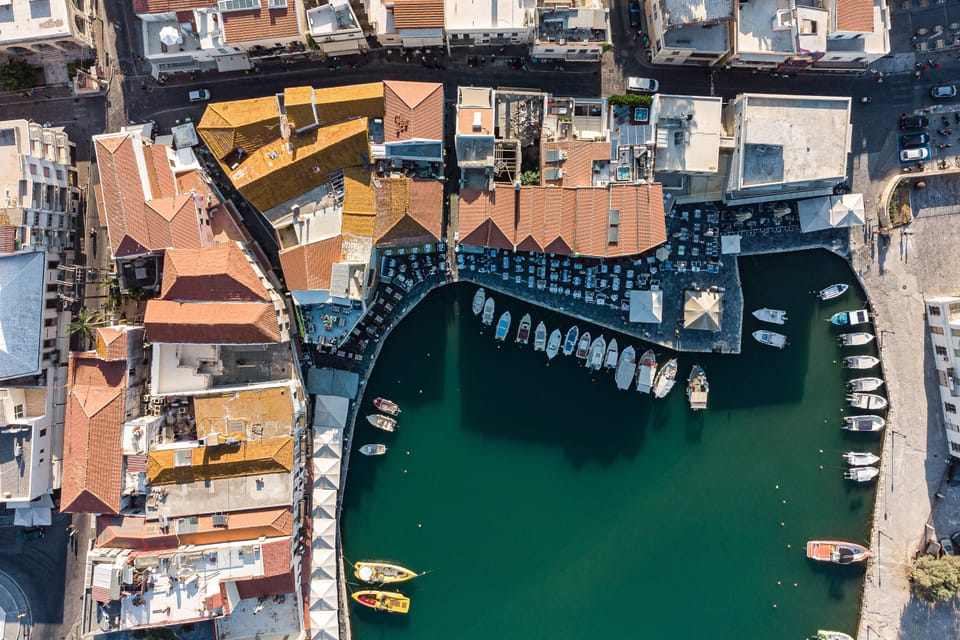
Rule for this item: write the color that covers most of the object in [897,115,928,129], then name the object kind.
black car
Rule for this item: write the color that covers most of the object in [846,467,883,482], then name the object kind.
white boat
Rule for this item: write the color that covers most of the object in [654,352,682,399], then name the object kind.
white boat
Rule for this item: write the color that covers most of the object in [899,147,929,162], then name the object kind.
white car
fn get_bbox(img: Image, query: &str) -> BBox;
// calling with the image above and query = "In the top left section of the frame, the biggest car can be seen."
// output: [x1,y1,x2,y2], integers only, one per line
[186,87,213,103]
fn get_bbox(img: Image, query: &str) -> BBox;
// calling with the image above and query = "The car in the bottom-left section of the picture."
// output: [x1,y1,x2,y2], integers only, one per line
[17,528,46,543]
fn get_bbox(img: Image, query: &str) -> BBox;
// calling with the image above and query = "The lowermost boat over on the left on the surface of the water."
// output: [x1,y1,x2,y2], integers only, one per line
[348,588,410,613]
